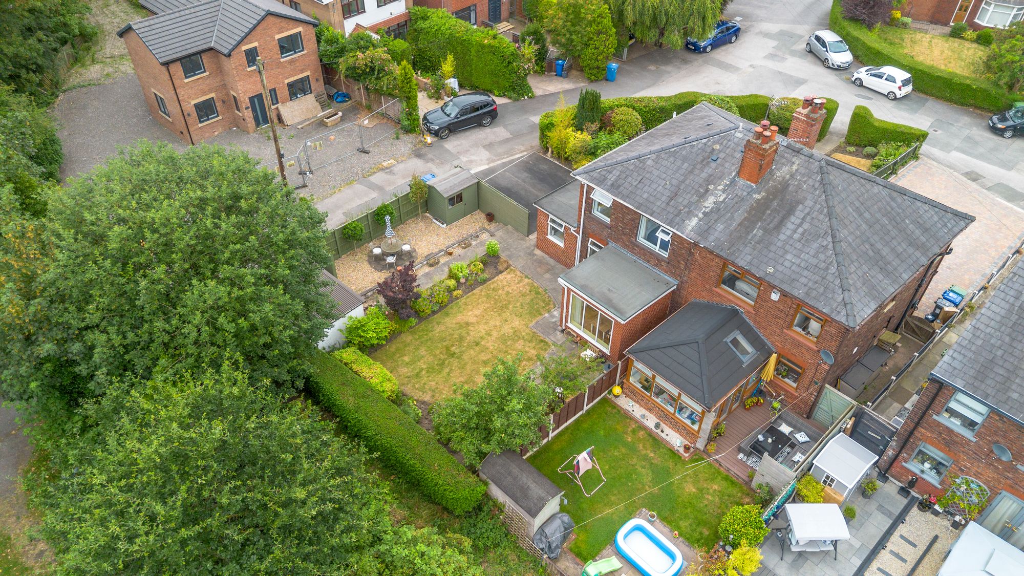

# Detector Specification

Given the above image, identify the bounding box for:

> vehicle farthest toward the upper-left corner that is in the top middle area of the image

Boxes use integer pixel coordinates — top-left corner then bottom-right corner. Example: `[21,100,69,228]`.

[420,91,500,140]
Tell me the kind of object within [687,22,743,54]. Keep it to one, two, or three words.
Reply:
car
